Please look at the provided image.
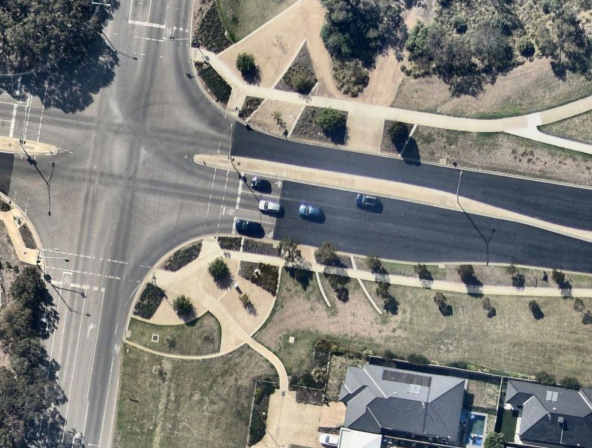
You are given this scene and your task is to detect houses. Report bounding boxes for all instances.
[505,380,592,448]
[339,364,466,446]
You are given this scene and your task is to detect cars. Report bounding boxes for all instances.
[251,177,273,190]
[299,204,325,218]
[258,199,284,213]
[235,219,264,234]
[316,434,339,448]
[354,193,381,209]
